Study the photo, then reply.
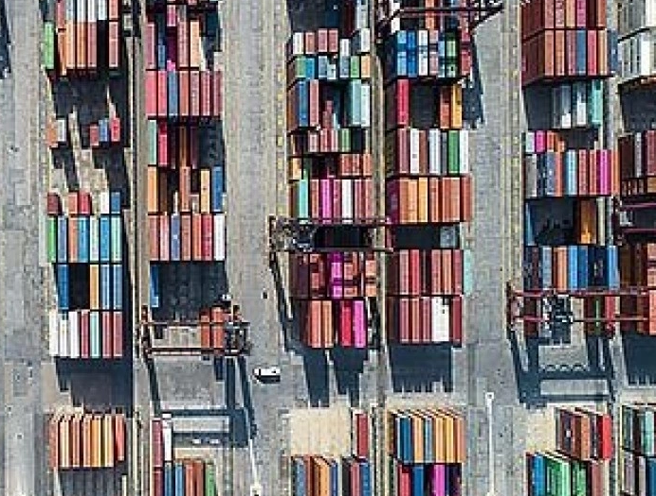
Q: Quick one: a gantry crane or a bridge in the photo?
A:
gantry crane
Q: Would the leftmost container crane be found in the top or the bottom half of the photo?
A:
bottom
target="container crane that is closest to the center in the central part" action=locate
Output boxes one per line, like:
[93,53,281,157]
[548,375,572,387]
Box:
[264,215,394,262]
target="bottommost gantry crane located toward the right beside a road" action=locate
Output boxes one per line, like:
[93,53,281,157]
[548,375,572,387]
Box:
[504,282,655,326]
